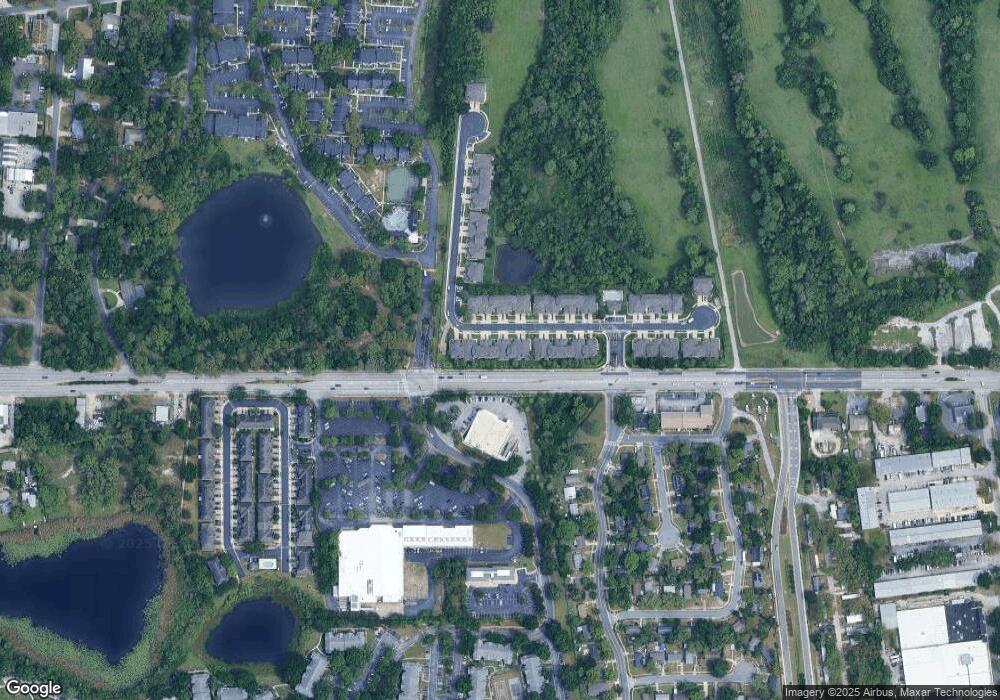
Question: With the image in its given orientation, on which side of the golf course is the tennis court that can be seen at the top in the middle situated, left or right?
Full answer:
The tennis court that can be seen at the top in the middle is to the left of the golf course.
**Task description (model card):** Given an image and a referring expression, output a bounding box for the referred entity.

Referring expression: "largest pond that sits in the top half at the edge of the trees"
[494,243,541,284]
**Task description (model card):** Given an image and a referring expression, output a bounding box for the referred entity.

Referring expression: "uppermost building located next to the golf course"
[466,82,486,104]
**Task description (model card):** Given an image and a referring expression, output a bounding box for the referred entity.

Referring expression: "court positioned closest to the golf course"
[388,167,407,201]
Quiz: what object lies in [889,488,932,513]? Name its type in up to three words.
building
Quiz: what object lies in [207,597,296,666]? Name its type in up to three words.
pond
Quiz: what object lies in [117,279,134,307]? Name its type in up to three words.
house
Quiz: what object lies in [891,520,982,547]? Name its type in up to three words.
building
